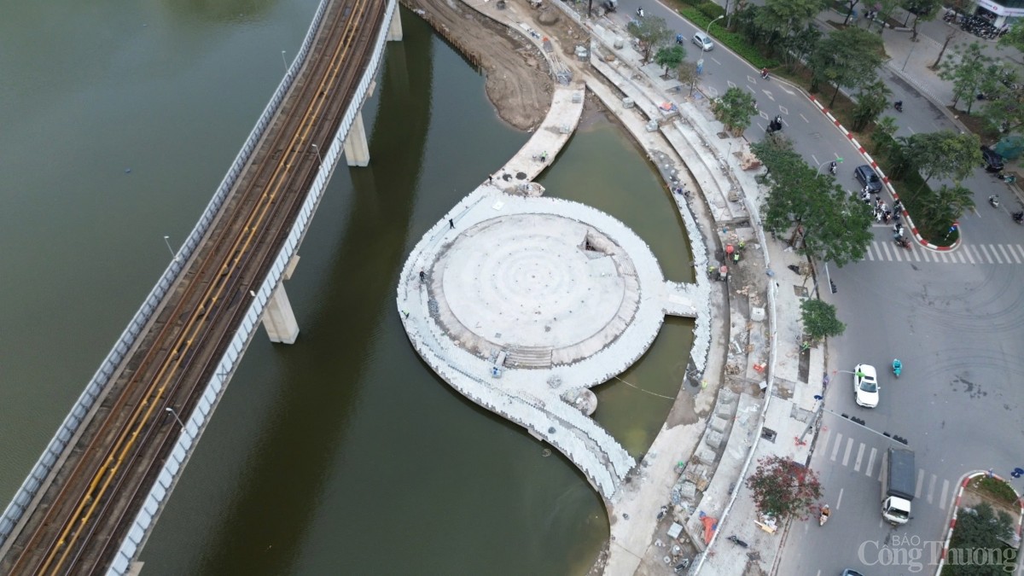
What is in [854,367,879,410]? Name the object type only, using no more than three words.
car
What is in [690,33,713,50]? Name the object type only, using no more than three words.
car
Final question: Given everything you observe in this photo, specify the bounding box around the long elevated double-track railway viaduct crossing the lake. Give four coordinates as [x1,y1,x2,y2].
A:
[0,0,401,576]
